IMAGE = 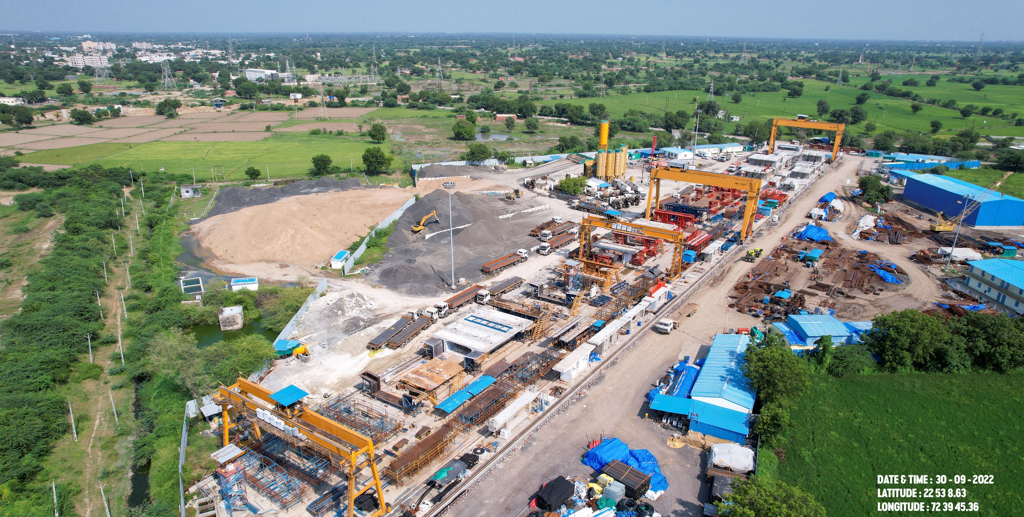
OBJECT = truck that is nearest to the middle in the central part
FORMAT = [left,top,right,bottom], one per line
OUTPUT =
[488,251,529,272]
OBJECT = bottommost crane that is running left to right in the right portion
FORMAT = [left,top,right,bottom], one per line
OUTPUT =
[574,211,687,277]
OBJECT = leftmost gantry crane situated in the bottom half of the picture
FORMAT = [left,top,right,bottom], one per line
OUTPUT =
[207,381,397,517]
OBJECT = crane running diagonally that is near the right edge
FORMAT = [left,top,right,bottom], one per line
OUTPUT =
[929,171,1011,232]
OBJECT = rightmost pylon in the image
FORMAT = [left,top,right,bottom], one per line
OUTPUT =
[975,35,987,69]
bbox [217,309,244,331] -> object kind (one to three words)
water tank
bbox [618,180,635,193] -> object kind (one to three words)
vehicle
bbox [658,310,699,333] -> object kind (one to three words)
truck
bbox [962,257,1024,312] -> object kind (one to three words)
building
